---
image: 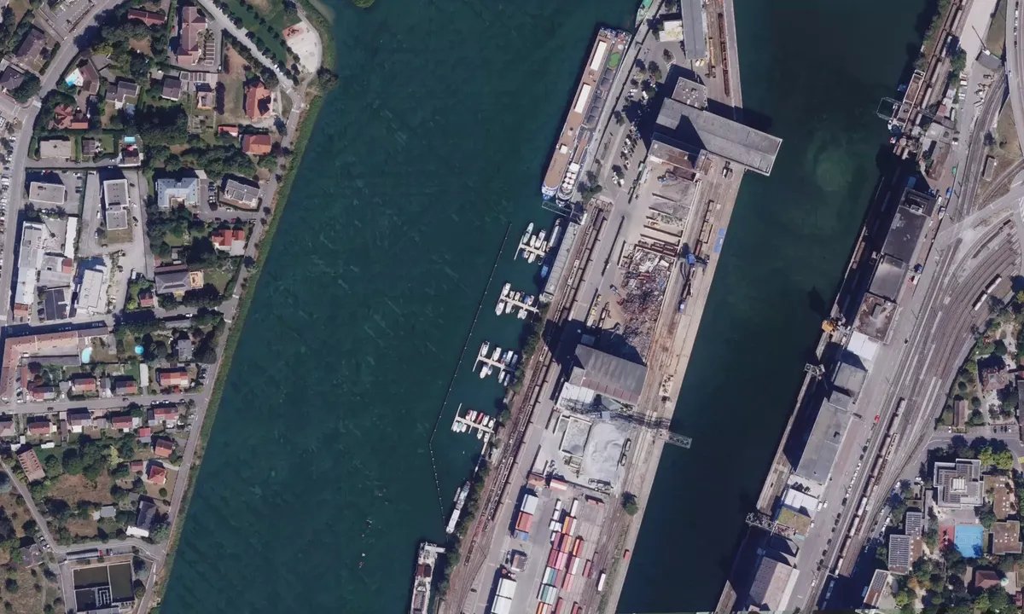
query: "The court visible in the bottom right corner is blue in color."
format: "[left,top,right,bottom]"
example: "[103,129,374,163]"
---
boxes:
[955,525,983,558]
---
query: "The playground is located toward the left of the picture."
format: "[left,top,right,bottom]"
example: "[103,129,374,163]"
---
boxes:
[287,21,320,71]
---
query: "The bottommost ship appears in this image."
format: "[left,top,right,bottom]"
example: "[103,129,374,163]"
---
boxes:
[412,542,437,614]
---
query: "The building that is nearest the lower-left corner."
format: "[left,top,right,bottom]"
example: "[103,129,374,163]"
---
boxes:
[20,544,44,567]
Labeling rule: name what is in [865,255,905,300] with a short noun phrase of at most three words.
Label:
building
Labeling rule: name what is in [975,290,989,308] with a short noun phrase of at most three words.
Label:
rail car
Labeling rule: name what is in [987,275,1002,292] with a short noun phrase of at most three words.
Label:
rail car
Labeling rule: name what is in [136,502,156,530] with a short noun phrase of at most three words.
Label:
house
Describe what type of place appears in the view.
port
